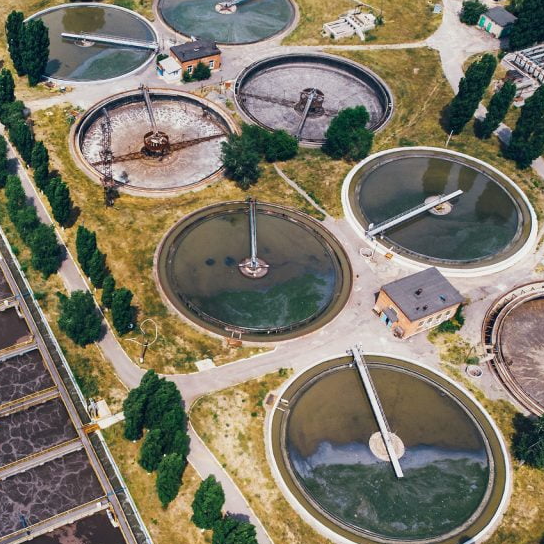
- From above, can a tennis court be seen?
No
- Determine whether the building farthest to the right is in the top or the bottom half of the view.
top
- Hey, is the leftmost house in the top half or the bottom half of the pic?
top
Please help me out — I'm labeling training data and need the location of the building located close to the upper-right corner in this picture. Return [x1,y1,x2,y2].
[478,8,512,36]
